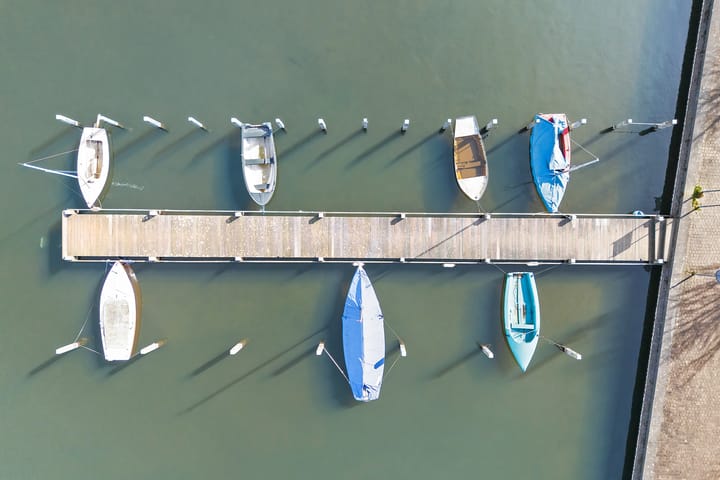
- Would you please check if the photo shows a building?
No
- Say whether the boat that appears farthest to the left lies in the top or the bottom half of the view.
top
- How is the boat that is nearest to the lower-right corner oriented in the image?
from top to bottom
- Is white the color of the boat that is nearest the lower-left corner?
Yes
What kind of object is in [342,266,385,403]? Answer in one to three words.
boat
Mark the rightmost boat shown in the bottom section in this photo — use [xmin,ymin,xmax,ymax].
[503,272,540,373]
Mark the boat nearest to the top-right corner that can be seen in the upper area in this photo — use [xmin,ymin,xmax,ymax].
[530,113,602,213]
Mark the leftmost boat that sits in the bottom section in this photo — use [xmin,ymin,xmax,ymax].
[98,261,139,363]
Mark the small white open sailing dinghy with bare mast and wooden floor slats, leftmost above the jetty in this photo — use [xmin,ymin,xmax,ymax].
[20,113,112,209]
